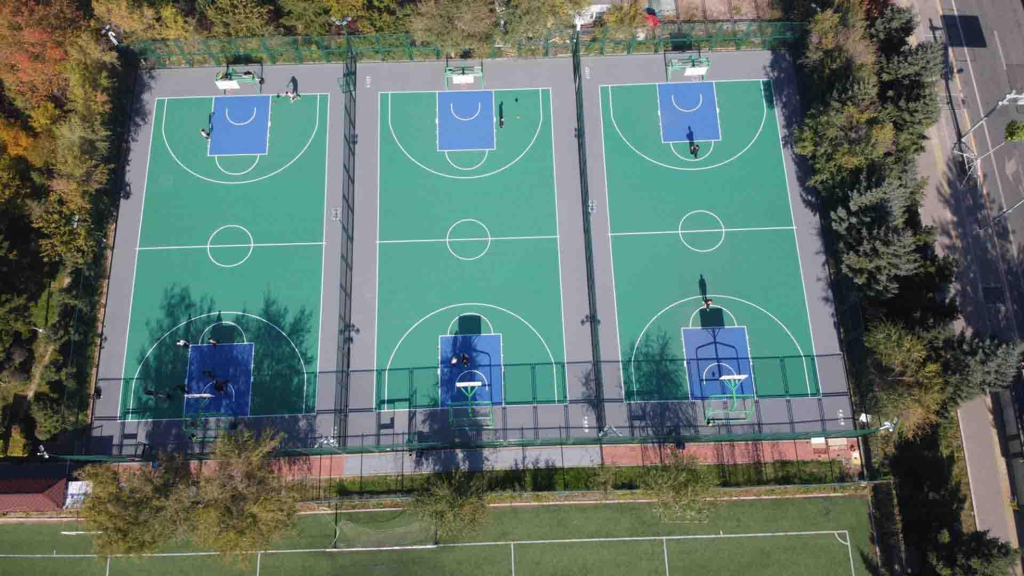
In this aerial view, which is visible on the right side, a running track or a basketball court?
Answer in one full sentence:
What appears on the right side is a basketball court.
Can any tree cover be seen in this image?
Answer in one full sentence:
Yes, the picture does contain tree cover.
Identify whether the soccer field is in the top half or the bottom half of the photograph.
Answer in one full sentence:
The soccer field is in the bottom half of the image.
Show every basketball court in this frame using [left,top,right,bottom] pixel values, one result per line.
[117,93,329,421]
[373,87,570,412]
[599,81,820,403]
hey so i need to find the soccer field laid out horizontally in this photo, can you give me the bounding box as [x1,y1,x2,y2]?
[0,494,884,576]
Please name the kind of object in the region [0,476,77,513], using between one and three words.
building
